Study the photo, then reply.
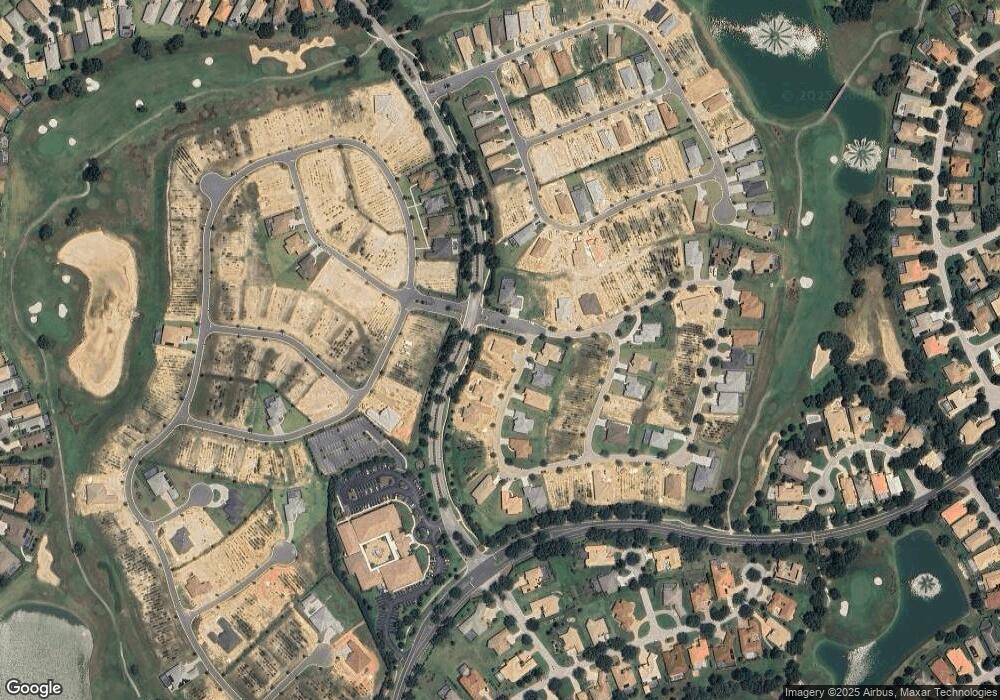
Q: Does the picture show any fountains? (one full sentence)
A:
Yes, looking at the shot, I can spot a fountain.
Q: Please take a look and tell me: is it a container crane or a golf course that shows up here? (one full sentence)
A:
Of the two, only a golf course appears.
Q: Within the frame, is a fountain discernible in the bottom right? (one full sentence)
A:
Yes, looking in the bottom right, one can make out a fountain.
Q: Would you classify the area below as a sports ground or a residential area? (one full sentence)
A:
The area seen from above is a residential area.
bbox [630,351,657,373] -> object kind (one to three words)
house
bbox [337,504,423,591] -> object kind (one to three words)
building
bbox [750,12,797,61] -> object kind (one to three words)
fountain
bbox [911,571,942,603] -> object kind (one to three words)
fountain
